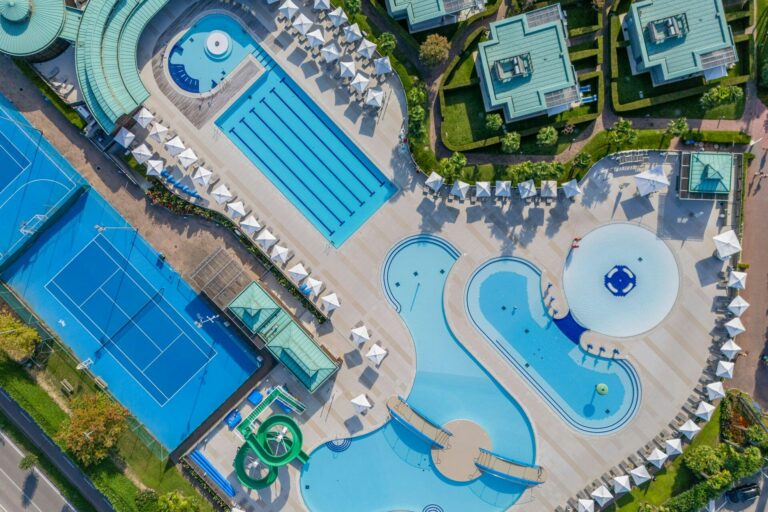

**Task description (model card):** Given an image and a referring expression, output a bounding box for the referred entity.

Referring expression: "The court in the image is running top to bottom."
[0,92,87,282]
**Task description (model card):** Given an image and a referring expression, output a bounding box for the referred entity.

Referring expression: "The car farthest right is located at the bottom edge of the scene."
[724,483,760,504]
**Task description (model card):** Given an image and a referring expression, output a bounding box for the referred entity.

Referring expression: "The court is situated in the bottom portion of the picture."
[3,184,256,450]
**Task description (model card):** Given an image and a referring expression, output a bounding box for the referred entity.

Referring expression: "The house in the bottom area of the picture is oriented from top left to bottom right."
[227,281,338,392]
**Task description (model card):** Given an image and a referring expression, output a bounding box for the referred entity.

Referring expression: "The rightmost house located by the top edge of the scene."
[616,0,734,90]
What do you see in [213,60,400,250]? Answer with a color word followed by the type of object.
blue swimming pool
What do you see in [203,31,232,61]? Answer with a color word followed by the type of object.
white fountain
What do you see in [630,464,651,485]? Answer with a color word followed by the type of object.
white umbrella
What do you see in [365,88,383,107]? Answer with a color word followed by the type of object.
white umbrella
